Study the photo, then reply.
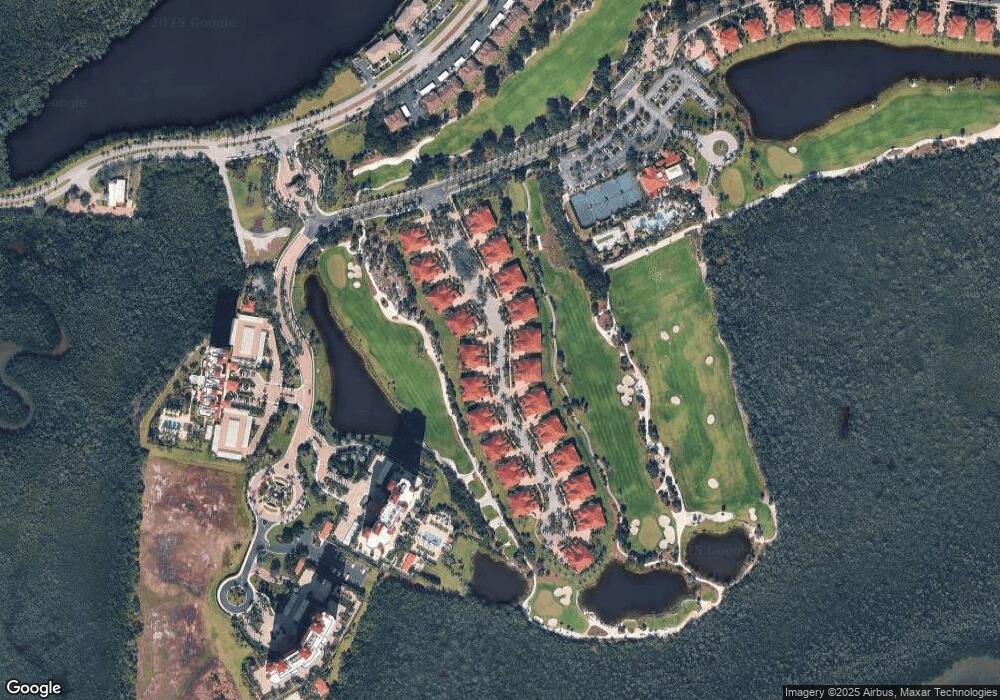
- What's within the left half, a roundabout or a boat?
roundabout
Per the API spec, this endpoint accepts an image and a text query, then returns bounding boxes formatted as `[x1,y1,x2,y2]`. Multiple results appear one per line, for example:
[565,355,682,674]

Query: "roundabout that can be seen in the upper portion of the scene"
[701,131,737,167]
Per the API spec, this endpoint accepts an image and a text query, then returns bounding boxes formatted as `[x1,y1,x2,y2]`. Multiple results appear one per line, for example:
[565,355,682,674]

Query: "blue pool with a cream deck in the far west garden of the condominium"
[159,408,191,439]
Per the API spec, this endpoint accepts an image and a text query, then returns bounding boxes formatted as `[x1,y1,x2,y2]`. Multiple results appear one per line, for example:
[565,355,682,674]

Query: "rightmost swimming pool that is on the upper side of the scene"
[694,57,711,73]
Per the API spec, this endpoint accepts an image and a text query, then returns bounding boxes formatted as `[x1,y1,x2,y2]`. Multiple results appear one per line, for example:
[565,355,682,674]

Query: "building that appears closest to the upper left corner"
[109,179,126,203]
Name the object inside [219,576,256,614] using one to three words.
roundabout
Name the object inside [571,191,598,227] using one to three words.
tennis court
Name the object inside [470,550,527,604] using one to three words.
pond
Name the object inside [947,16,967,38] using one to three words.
house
